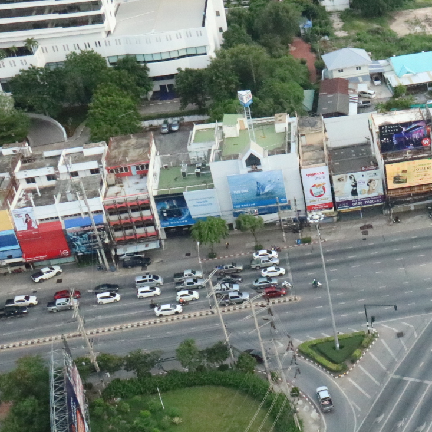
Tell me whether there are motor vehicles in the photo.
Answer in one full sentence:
Yes, I can see a motor vehicle in this picture.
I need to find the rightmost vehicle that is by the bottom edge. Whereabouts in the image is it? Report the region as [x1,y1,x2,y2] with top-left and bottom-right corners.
[316,387,334,415]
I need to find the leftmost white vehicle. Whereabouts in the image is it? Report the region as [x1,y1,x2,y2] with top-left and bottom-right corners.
[3,293,39,308]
